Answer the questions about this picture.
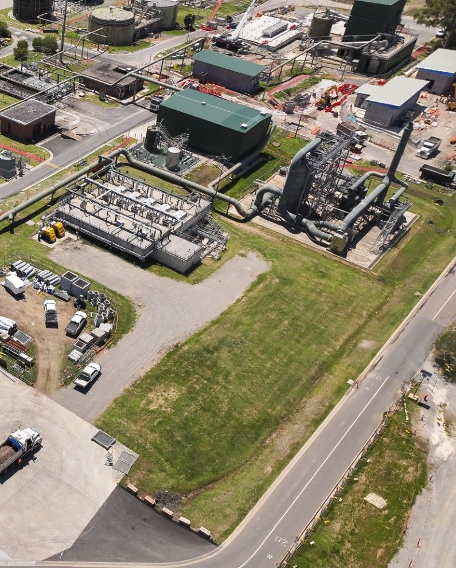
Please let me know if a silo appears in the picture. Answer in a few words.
Yes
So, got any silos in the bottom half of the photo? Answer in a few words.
No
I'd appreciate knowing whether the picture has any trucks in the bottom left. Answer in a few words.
Yes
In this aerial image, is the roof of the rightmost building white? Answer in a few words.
Yes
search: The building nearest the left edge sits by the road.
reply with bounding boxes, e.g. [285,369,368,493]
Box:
[0,99,59,139]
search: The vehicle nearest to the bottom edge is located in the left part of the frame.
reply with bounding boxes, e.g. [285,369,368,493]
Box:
[0,431,42,482]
